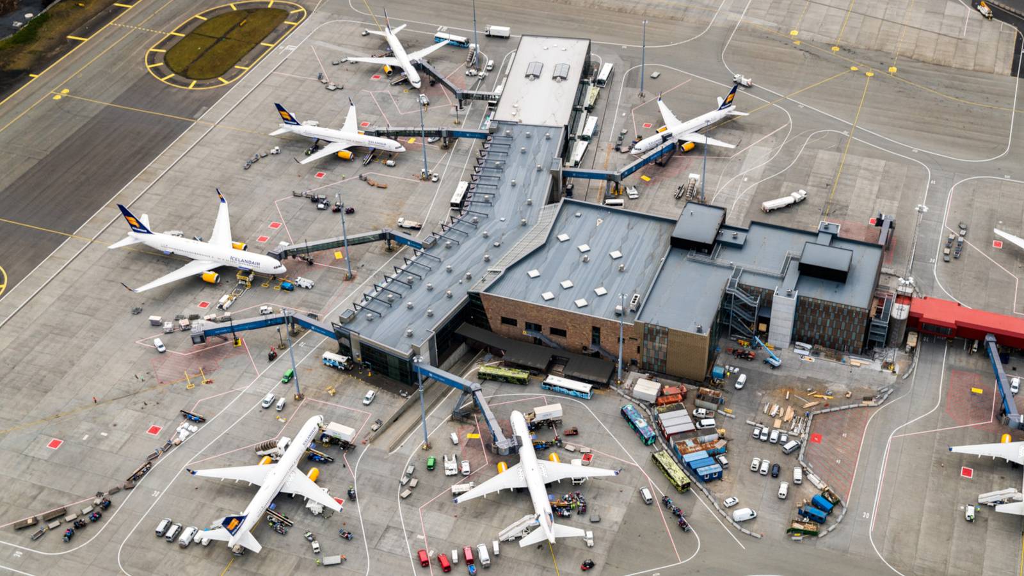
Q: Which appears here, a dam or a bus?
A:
bus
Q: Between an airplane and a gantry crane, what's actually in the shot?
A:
airplane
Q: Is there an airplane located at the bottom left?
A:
Yes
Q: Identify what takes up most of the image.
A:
paved ground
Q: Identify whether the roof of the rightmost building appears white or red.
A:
red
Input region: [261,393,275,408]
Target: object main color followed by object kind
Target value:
white car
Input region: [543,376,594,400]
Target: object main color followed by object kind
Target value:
white bus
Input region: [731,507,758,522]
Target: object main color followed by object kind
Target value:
white vehicle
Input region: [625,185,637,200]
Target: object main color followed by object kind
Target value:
white vehicle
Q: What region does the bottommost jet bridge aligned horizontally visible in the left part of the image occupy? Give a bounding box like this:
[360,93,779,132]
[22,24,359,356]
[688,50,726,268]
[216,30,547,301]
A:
[189,309,337,344]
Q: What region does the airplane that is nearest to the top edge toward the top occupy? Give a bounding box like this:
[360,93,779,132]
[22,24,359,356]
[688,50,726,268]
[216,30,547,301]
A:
[347,14,449,93]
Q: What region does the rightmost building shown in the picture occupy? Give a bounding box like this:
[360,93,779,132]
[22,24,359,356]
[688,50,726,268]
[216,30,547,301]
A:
[915,296,1024,354]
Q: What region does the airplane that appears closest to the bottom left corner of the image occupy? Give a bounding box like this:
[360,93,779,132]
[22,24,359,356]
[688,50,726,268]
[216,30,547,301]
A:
[191,416,343,549]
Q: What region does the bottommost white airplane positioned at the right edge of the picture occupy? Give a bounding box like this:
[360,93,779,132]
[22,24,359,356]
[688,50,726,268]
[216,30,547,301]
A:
[947,432,1024,517]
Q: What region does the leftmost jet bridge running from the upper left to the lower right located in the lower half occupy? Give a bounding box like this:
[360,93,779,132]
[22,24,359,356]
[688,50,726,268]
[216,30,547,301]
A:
[418,362,524,462]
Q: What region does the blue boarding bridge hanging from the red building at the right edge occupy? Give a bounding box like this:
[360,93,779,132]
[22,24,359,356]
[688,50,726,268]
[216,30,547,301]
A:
[978,332,1024,444]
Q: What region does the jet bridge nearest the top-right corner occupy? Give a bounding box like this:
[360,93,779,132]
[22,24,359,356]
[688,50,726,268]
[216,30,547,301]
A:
[869,219,894,255]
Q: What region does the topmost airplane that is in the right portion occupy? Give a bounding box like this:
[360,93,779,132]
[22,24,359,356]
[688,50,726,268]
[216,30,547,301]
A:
[628,88,747,157]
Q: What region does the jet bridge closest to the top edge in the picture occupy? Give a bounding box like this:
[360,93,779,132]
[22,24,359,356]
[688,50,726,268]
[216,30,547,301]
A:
[407,59,499,113]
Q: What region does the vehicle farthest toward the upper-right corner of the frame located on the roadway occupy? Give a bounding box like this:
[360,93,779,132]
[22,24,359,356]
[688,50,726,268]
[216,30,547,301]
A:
[978,3,990,15]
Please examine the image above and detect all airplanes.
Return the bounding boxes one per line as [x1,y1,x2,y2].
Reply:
[947,432,1024,517]
[191,416,343,549]
[111,194,280,294]
[628,88,747,157]
[347,14,449,93]
[273,99,404,163]
[455,410,619,544]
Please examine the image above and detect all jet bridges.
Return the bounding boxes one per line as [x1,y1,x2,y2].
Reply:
[565,136,679,194]
[869,219,894,255]
[407,59,499,113]
[269,226,422,265]
[978,332,1024,444]
[364,127,487,152]
[189,309,337,344]
[418,362,524,462]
